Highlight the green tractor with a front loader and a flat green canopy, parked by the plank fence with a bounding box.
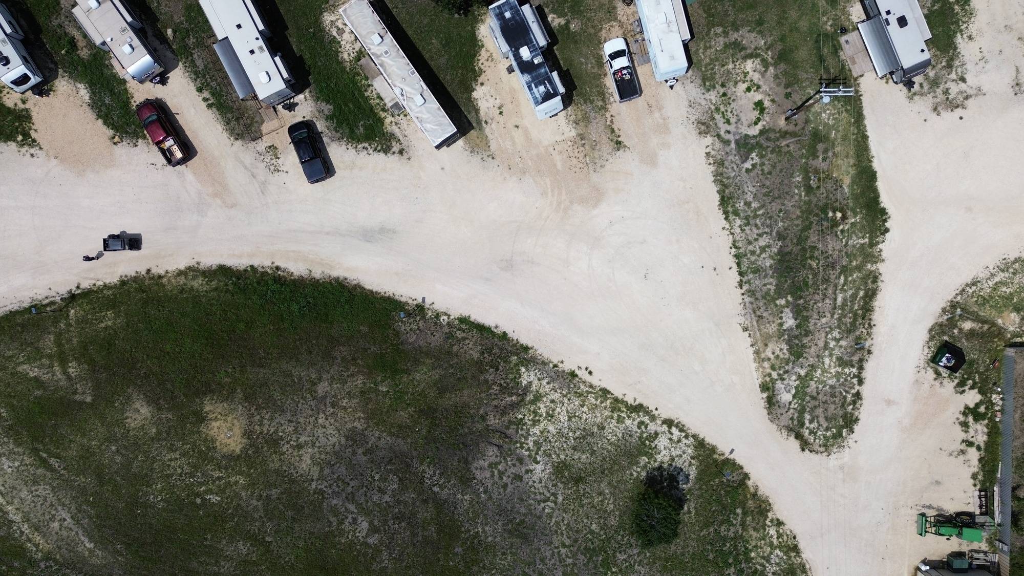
[912,510,982,543]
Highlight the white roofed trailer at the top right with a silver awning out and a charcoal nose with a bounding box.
[852,0,932,92]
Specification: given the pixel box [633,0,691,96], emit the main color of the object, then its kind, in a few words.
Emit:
white trailer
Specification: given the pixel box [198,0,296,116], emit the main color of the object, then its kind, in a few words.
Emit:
white trailer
